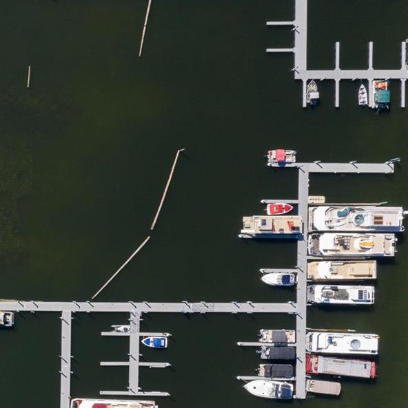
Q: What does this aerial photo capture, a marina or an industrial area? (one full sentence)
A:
This looks like a marina.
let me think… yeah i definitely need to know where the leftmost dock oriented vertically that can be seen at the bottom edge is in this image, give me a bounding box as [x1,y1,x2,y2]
[58,311,75,408]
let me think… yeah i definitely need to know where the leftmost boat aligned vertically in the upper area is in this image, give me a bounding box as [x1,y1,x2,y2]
[307,80,320,109]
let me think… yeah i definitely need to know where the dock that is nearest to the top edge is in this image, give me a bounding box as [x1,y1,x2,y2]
[265,0,408,108]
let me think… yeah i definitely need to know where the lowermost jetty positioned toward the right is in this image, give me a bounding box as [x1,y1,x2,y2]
[236,312,355,399]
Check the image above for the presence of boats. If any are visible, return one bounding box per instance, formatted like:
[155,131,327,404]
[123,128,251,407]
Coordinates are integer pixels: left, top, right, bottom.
[371,82,392,113]
[265,149,297,164]
[263,202,293,214]
[109,325,131,332]
[303,261,378,280]
[304,207,402,231]
[68,397,155,408]
[303,284,376,304]
[357,84,367,109]
[261,272,297,285]
[303,379,341,395]
[253,347,295,360]
[255,329,294,342]
[0,311,14,326]
[300,354,375,378]
[141,337,167,348]
[242,380,294,398]
[307,80,320,109]
[303,233,395,256]
[237,215,303,235]
[301,330,380,353]
[252,364,293,377]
